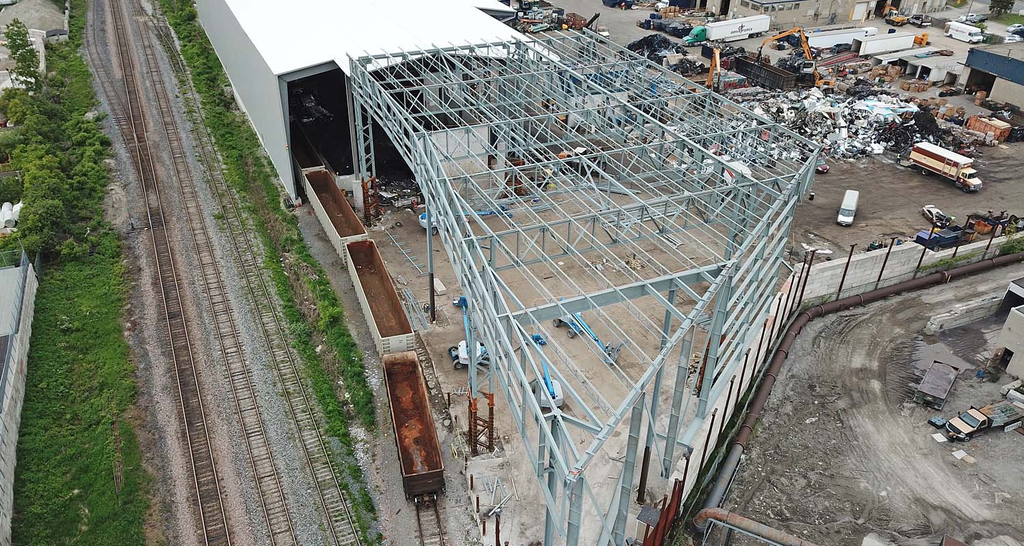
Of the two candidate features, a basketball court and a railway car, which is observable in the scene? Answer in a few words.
railway car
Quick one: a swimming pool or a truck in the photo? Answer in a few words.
truck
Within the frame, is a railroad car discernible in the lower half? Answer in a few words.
Yes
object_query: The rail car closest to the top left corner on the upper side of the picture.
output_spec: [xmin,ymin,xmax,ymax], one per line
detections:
[293,116,327,185]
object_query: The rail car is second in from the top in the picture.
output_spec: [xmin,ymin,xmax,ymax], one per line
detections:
[304,168,368,260]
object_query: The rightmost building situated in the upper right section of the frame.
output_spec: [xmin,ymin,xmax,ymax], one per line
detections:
[959,41,1024,113]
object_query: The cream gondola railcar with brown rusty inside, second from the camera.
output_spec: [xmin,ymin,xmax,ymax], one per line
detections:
[345,239,417,369]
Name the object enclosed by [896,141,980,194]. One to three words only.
truck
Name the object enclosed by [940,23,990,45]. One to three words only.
vehicle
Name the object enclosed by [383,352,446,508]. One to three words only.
rail car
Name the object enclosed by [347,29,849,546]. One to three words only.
building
